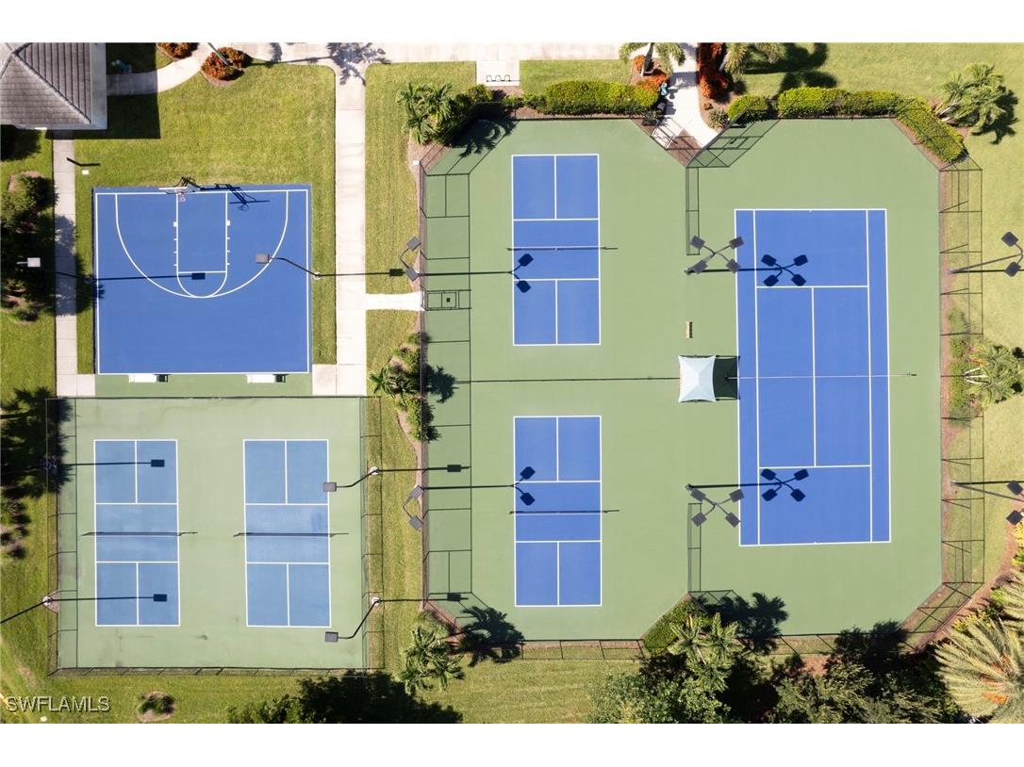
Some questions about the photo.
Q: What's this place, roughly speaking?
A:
sports ground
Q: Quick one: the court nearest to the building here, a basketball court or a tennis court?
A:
basketball court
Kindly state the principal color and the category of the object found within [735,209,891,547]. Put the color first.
blue tennis court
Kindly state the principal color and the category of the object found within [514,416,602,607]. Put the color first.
blue sports court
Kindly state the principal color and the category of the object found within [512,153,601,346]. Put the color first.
blue sports court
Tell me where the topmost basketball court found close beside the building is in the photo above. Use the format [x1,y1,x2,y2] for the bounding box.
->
[93,185,312,374]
